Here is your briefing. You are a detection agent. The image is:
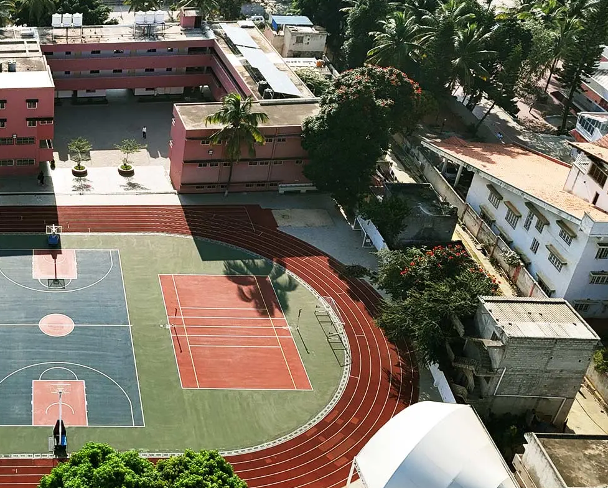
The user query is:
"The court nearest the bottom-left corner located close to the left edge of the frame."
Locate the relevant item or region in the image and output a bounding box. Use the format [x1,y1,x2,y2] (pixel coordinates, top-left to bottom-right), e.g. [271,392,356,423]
[0,249,145,426]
